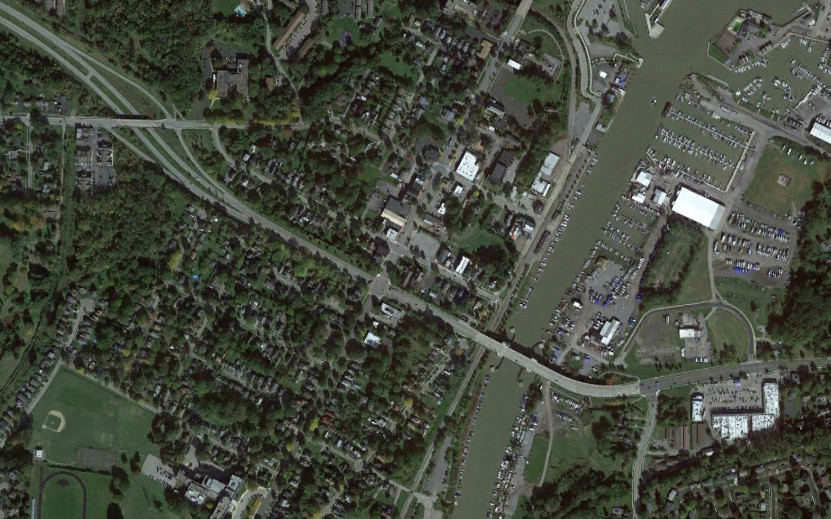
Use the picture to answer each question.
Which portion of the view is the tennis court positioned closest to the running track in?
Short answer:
bottom left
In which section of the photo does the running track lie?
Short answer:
bottom left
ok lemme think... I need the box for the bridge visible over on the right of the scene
[454,312,641,394]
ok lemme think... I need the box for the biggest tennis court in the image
[77,448,116,471]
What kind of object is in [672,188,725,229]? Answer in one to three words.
building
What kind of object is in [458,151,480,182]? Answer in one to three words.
building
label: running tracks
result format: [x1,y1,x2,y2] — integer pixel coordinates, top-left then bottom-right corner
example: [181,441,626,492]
[40,465,85,519]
